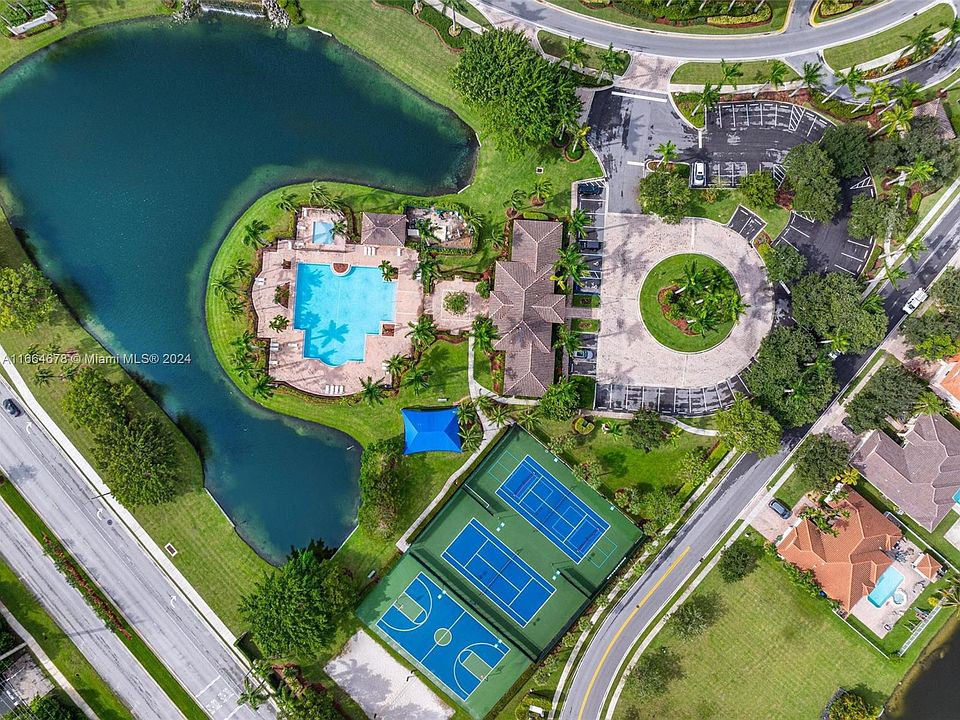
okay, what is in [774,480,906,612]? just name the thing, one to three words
house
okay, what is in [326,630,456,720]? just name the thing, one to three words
sports court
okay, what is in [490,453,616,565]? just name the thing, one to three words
tennis court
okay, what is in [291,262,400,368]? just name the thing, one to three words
swimming pool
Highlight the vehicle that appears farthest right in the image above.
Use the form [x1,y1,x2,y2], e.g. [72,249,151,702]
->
[903,288,932,316]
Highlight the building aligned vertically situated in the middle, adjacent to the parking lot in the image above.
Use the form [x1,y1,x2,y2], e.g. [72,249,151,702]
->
[489,220,566,397]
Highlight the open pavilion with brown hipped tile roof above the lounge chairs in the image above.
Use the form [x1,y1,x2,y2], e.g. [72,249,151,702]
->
[361,213,407,248]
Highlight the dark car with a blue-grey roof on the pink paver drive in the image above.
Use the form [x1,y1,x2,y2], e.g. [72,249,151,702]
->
[771,499,793,519]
